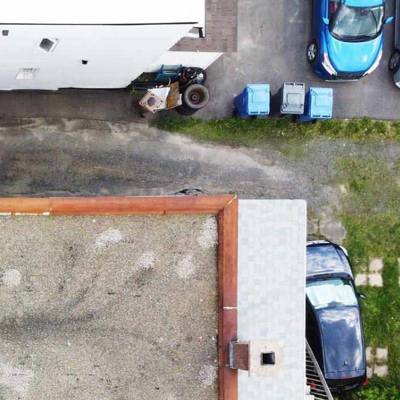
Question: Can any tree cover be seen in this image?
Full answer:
No, no tree cover is visible.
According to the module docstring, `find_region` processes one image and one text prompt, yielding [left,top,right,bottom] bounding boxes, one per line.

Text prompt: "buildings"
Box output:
[0,0,237,89]
[0,196,307,400]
